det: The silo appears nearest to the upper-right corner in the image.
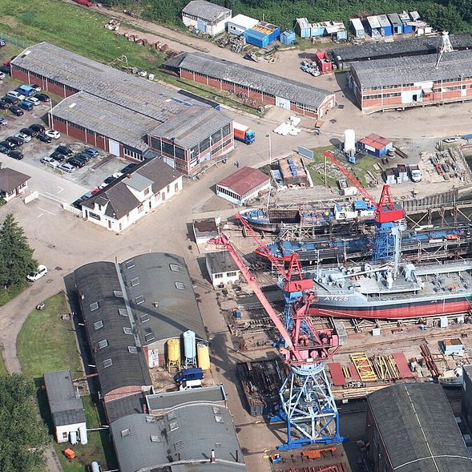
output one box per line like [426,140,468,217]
[343,125,355,157]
